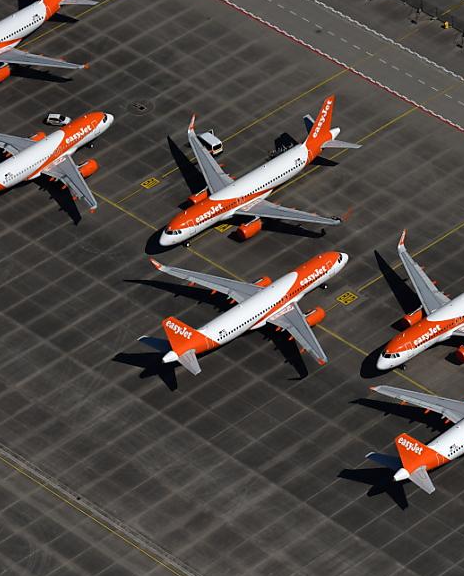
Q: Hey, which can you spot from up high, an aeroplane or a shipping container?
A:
aeroplane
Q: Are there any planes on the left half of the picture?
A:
Yes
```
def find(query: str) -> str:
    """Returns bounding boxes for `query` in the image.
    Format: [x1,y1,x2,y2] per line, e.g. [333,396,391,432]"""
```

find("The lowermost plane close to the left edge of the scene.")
[0,112,116,211]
